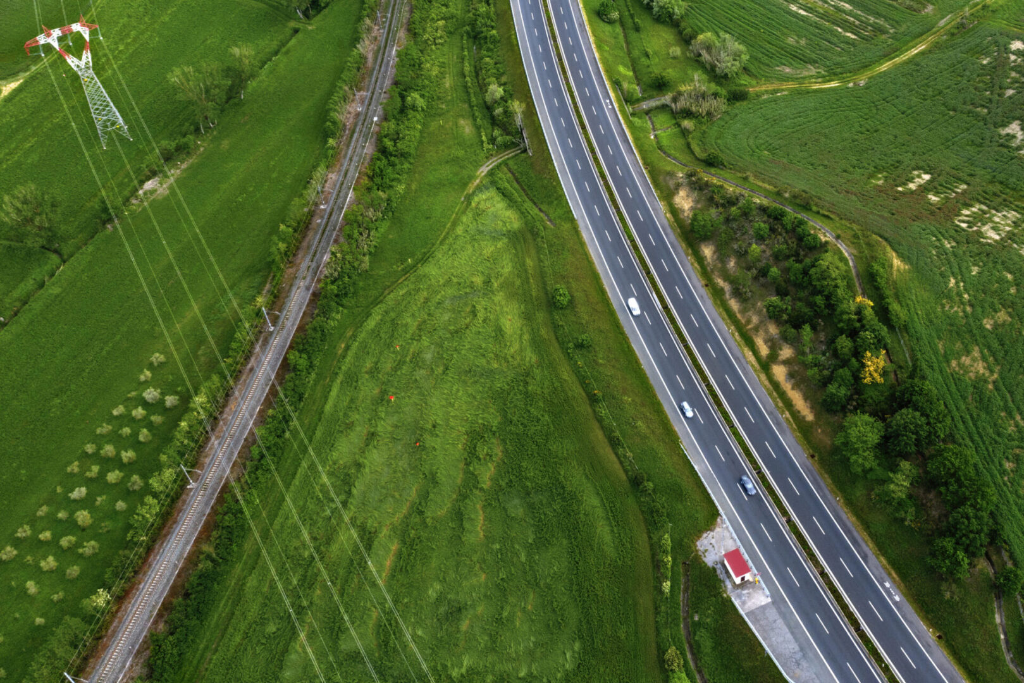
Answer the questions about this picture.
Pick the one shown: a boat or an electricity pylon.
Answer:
electricity pylon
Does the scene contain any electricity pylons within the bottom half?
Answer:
No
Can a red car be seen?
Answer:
No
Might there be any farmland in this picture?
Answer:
Yes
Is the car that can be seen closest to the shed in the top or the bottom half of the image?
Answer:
bottom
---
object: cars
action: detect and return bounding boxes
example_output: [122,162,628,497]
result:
[627,297,643,317]
[738,471,760,498]
[680,399,696,420]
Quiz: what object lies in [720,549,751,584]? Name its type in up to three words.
shed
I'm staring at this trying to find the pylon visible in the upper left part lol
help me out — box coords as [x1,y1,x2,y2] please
[24,16,135,148]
